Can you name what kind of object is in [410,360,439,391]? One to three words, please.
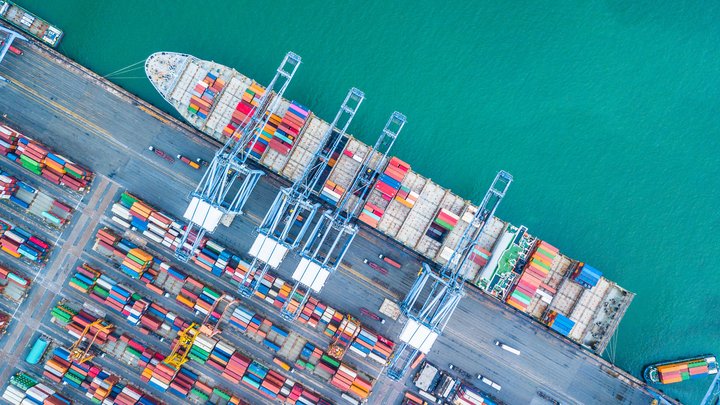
shed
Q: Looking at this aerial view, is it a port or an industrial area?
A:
port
